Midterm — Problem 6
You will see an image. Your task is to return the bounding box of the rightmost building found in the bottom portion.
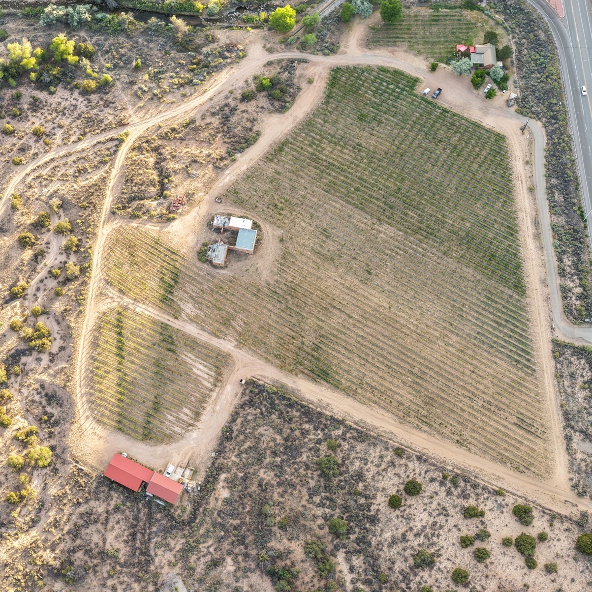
[146,472,184,505]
